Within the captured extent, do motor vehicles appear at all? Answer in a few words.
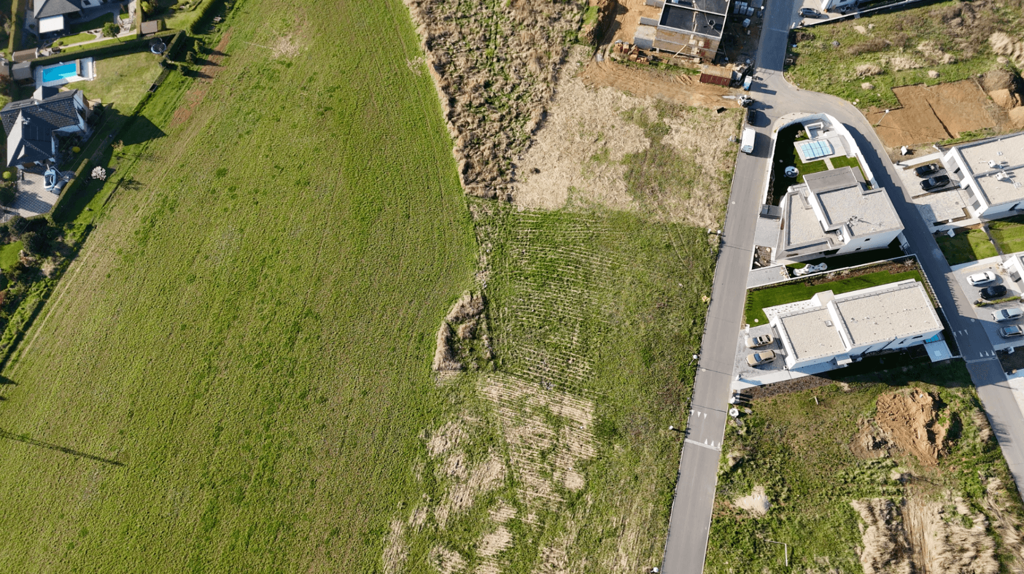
Yes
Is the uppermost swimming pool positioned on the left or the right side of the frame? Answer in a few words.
left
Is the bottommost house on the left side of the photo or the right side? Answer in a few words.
right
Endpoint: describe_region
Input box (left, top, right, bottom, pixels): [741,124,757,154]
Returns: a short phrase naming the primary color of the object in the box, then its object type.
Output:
white vehicle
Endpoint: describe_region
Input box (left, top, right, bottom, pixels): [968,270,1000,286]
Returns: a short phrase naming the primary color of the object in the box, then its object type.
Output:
white car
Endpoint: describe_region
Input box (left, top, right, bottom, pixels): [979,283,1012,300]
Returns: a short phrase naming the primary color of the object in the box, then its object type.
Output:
black car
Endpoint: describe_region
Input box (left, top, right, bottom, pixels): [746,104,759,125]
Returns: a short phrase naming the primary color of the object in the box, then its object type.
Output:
black vehicle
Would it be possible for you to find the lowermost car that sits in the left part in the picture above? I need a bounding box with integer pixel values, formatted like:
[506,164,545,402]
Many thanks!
[46,174,69,198]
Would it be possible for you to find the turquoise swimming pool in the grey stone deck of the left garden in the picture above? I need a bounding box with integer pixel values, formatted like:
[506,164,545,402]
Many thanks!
[41,62,76,83]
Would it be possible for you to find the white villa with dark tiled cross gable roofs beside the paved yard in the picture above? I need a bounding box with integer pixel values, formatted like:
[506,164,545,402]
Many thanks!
[0,86,86,175]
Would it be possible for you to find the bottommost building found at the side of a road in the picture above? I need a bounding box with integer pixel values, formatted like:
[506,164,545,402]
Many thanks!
[771,282,944,369]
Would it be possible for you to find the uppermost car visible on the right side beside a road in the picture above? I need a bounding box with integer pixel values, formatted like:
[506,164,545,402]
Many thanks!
[797,4,823,19]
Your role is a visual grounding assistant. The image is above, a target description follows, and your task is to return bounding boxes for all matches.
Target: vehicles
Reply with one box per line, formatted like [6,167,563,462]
[746,349,779,367]
[979,283,1012,300]
[733,91,757,108]
[746,104,759,125]
[745,332,777,349]
[914,161,944,178]
[968,270,1000,286]
[46,174,69,198]
[921,174,952,190]
[797,4,823,19]
[994,305,1024,322]
[741,124,757,154]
